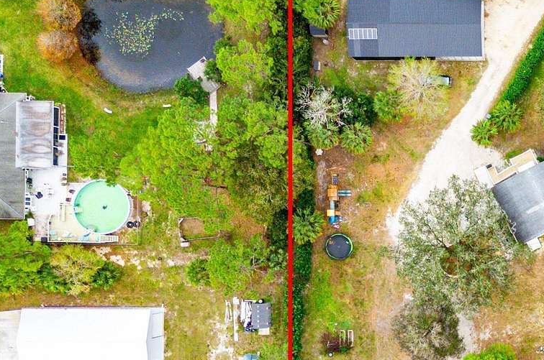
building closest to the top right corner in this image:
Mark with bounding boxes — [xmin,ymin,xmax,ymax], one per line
[346,0,485,63]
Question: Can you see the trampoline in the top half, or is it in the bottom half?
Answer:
bottom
